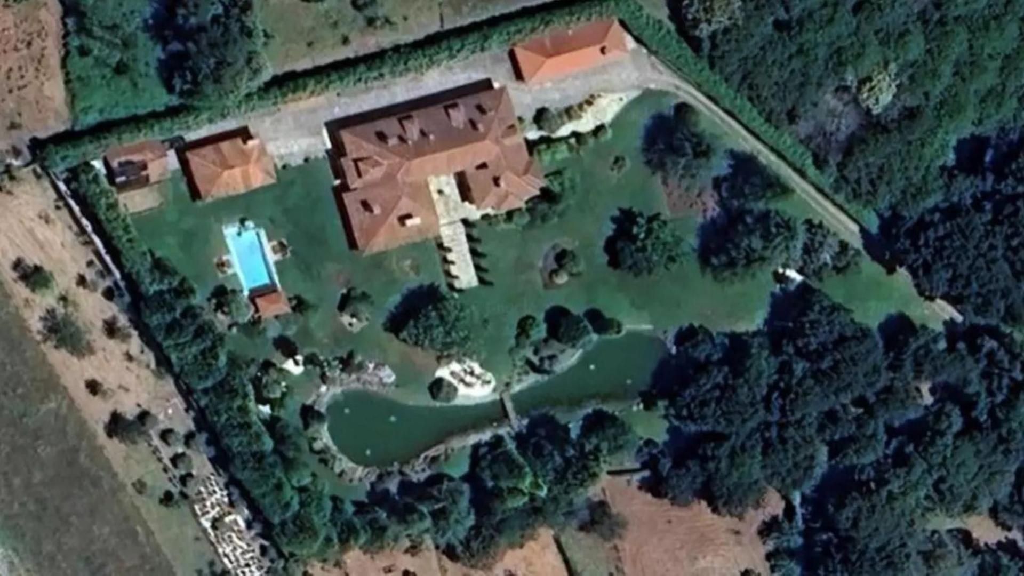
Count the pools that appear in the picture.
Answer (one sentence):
Altogether the scene contains 1 pool.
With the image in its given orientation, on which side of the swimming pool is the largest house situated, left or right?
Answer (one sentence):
Compared with the swimming pool, the largest house is located further to the right.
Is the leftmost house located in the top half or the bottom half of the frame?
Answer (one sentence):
The leftmost house sits in the top half of the picture.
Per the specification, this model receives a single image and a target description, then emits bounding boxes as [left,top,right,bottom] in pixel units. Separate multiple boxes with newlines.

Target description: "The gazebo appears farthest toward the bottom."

[426,373,455,401]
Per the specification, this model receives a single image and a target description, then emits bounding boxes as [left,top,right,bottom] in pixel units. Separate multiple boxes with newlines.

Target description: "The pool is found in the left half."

[222,224,283,296]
